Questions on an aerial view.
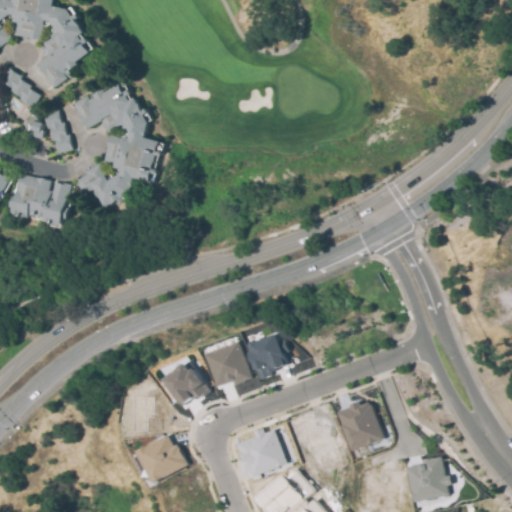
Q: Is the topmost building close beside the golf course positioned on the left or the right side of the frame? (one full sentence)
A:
The topmost building close beside the golf course appears in the left half of the scene.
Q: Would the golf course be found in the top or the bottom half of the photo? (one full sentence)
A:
The golf course sits in the top half of the picture.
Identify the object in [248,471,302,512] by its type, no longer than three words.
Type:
house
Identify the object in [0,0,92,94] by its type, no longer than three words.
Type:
building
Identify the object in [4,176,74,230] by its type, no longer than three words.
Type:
building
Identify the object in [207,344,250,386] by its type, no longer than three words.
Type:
house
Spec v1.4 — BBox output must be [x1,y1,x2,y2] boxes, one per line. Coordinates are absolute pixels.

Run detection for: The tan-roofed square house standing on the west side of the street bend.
[138,435,188,482]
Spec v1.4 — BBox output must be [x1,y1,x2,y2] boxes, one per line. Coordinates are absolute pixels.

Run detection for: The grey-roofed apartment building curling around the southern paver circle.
[73,80,164,212]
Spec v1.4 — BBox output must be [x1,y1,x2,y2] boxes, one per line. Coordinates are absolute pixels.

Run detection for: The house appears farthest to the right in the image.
[408,457,450,502]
